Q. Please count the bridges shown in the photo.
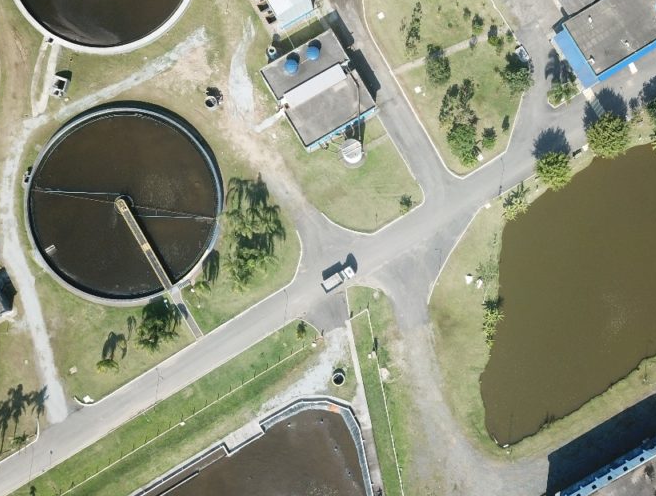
one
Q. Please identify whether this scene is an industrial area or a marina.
industrial area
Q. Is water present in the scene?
Yes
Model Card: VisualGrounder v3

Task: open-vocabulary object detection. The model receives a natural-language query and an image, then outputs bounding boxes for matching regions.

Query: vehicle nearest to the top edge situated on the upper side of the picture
[512,43,529,64]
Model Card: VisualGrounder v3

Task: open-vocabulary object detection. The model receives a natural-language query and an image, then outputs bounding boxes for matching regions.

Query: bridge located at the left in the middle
[116,196,175,292]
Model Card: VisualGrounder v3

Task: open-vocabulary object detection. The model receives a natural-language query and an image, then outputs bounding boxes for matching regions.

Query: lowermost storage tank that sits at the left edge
[20,106,226,305]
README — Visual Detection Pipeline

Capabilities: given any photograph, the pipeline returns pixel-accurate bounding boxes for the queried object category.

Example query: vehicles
[512,43,529,64]
[323,264,359,292]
